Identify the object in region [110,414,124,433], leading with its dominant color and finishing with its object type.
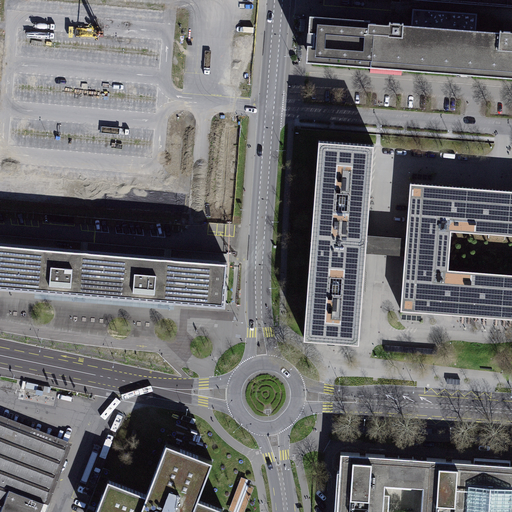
white vehicle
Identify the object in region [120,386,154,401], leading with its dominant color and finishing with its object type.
white vehicle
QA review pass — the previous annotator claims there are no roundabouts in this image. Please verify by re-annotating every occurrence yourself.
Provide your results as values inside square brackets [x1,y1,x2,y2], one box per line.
[225,354,306,435]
